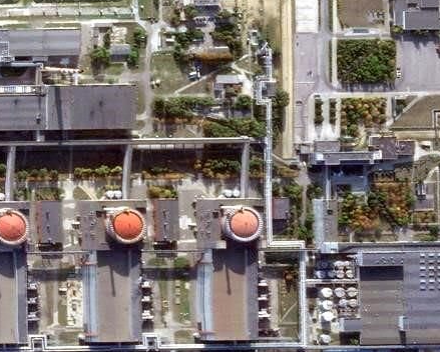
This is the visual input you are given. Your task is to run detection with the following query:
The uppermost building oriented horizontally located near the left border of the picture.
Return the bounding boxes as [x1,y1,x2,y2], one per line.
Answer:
[0,30,82,57]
